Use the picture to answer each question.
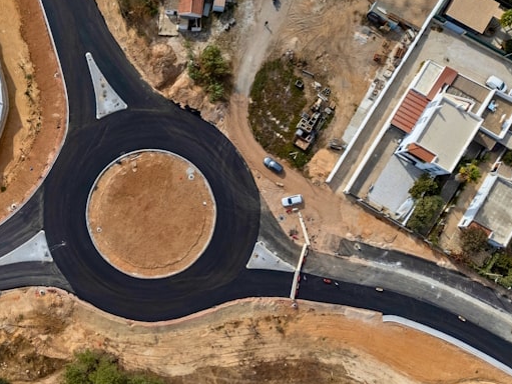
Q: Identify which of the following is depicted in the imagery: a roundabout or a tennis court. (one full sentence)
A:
Of the two, only a roundabout appears.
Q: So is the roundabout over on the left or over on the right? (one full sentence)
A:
You can find the roundabout on the left side of the picture.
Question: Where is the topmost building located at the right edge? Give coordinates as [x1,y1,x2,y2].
[440,0,512,36]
